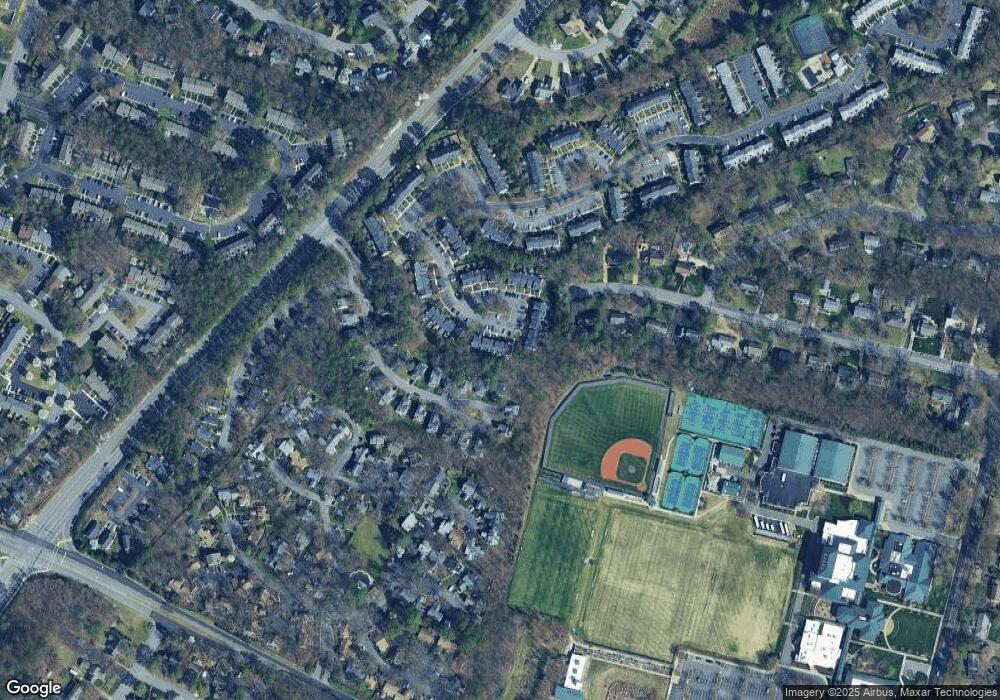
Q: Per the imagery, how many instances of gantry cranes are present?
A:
0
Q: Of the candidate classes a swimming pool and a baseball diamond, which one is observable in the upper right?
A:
swimming pool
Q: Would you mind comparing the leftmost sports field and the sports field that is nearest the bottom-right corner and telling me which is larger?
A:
the sports field that is nearest the bottom-right corner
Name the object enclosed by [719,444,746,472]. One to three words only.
building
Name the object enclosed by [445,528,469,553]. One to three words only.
house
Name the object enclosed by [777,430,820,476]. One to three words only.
building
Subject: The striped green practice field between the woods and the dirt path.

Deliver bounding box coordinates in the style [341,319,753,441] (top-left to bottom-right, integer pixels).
[509,480,603,622]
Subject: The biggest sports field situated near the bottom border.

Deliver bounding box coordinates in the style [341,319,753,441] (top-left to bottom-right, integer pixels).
[568,499,798,666]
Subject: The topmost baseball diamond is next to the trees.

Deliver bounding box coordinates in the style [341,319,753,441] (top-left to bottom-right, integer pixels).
[543,377,671,497]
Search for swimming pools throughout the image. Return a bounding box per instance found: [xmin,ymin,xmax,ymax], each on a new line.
[797,57,833,89]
